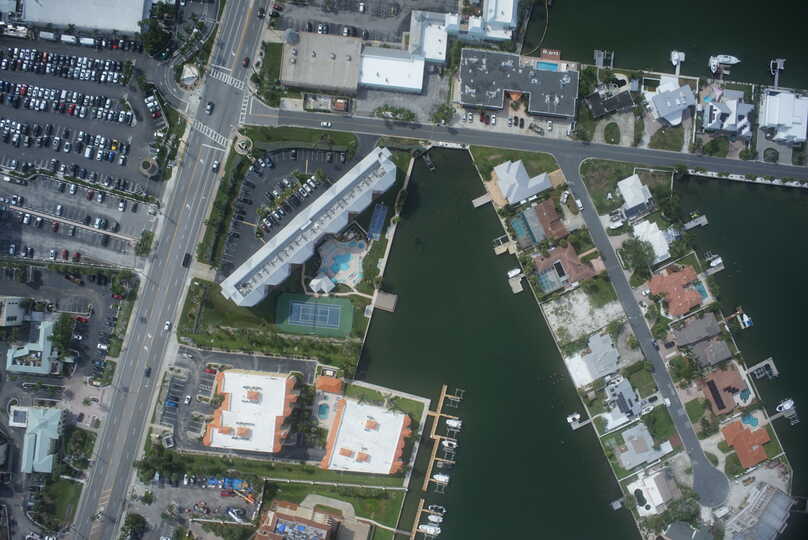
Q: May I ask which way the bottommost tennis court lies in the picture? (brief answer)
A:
horizontally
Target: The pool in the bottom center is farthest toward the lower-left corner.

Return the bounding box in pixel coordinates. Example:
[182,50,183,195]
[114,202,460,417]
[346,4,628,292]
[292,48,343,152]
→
[317,403,330,420]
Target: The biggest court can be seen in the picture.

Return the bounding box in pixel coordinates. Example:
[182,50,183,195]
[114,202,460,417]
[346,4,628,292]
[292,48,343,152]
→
[275,293,353,336]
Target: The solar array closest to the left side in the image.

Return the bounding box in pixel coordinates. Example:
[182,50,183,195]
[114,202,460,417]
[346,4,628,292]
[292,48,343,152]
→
[611,388,634,419]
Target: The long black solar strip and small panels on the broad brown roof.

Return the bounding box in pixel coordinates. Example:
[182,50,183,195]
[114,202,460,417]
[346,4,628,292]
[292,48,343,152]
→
[706,379,739,409]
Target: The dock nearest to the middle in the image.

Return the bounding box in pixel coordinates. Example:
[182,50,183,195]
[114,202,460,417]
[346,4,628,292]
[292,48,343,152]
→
[374,292,398,312]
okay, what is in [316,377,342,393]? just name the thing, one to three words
building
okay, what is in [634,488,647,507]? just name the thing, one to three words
swimming pool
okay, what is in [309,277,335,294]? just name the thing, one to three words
gazebo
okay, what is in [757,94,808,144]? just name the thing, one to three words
house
